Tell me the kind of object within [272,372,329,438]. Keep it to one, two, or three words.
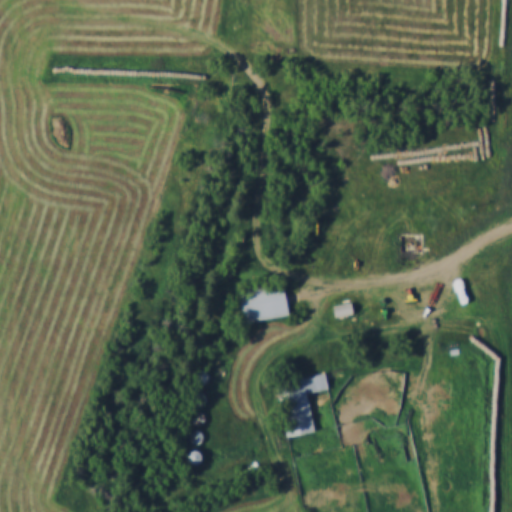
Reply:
house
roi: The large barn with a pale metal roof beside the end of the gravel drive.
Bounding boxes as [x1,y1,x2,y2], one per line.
[244,292,290,322]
